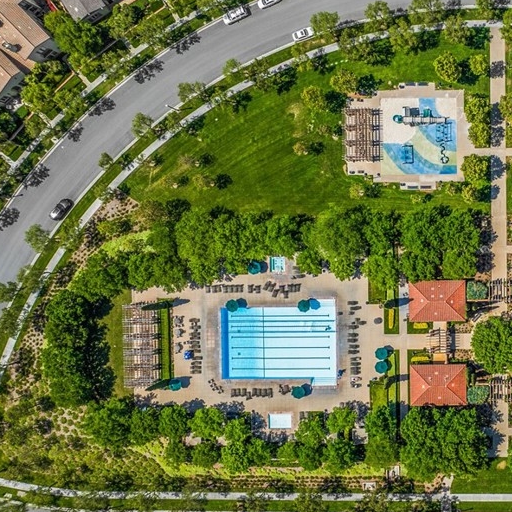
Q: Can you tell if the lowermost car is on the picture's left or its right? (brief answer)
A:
left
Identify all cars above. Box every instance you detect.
[222,5,248,24]
[48,197,71,221]
[289,26,313,41]
[256,0,280,8]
